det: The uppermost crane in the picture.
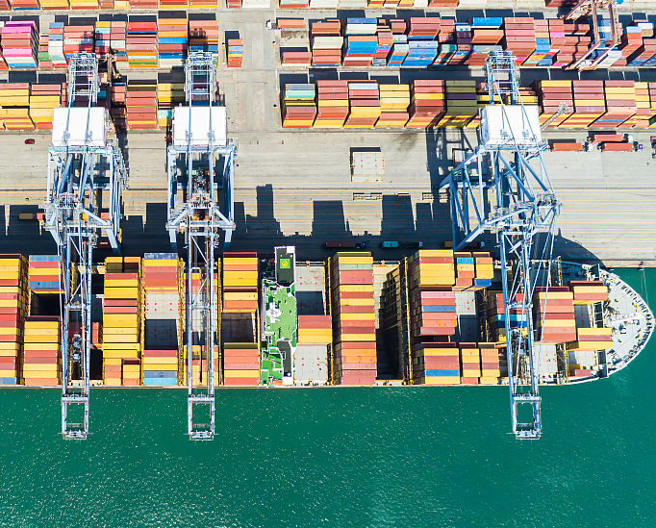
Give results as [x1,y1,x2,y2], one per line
[560,0,621,71]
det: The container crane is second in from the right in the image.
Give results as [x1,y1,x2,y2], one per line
[424,45,564,448]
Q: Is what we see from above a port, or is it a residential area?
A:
port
